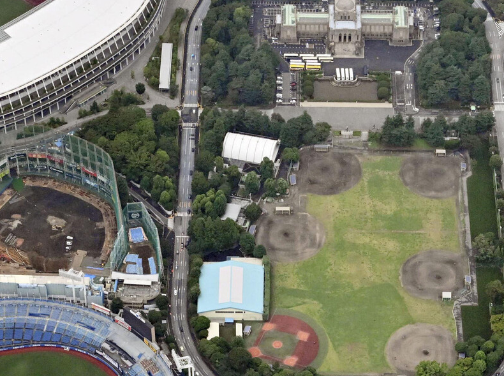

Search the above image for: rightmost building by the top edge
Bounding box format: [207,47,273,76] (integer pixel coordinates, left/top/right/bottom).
[269,0,421,56]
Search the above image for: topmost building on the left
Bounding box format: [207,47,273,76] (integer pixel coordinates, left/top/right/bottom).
[161,43,174,93]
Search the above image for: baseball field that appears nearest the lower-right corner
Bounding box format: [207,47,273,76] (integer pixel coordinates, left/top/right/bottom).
[388,321,456,370]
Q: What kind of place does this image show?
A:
sports ground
